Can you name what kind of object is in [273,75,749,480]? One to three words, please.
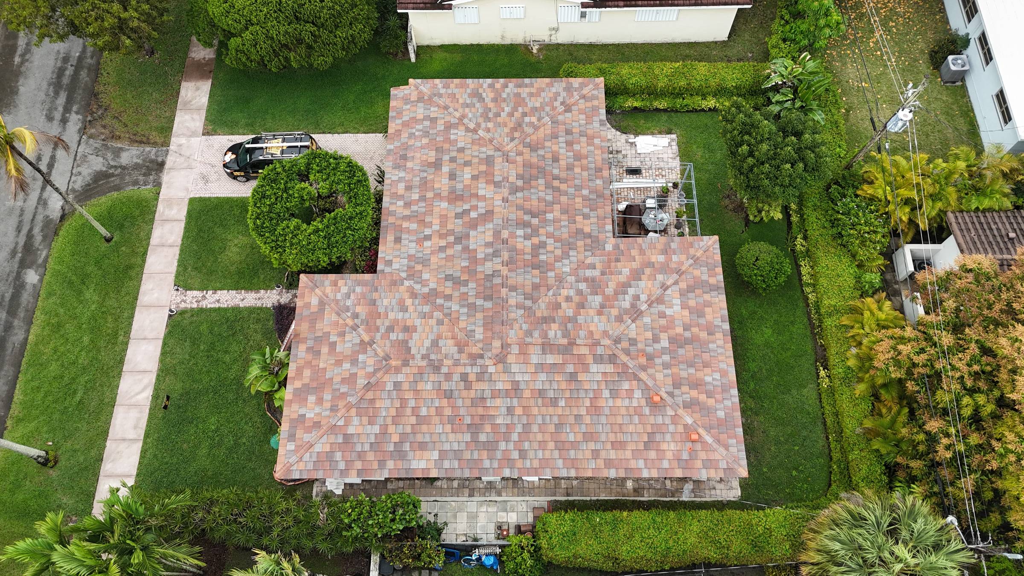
house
